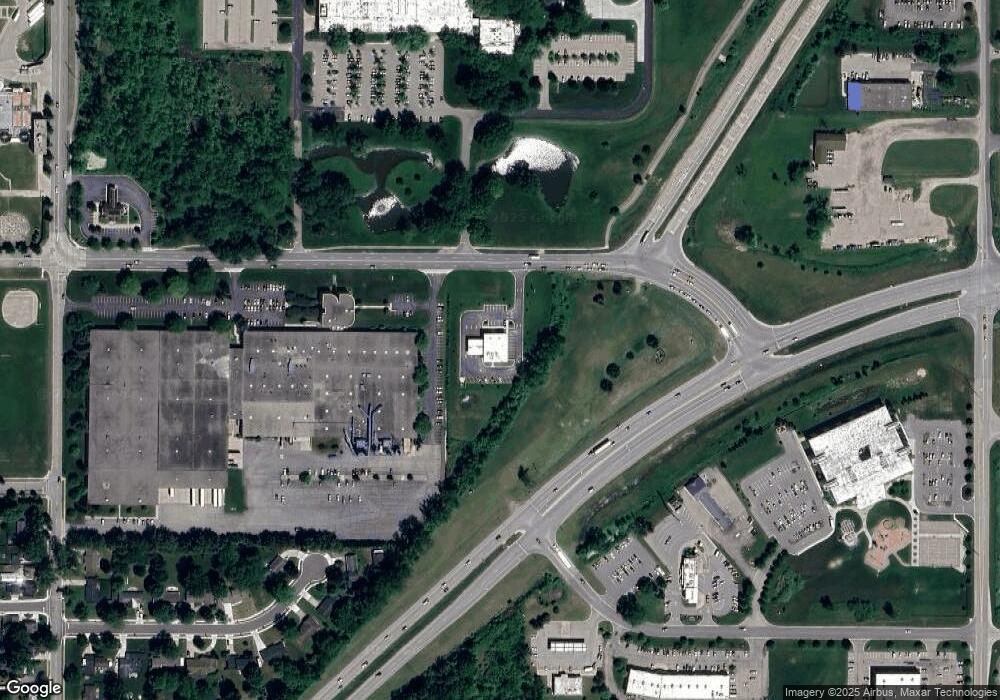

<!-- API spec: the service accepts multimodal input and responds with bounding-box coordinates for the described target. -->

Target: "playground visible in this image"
[866,518,912,572]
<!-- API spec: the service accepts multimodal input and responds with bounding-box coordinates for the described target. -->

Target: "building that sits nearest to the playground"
[810,405,914,510]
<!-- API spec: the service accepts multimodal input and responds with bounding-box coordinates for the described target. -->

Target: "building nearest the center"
[469,333,508,362]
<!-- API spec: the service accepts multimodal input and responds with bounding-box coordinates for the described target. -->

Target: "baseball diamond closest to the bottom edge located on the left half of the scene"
[2,289,40,328]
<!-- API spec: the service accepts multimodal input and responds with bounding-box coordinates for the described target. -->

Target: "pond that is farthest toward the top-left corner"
[308,145,434,233]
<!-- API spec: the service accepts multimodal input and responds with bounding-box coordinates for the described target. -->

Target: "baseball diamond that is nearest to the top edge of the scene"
[0,213,29,241]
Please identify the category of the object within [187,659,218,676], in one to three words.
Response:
house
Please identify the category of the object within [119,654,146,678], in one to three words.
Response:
house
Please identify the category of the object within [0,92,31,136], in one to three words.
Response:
building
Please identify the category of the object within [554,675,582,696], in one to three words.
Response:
building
